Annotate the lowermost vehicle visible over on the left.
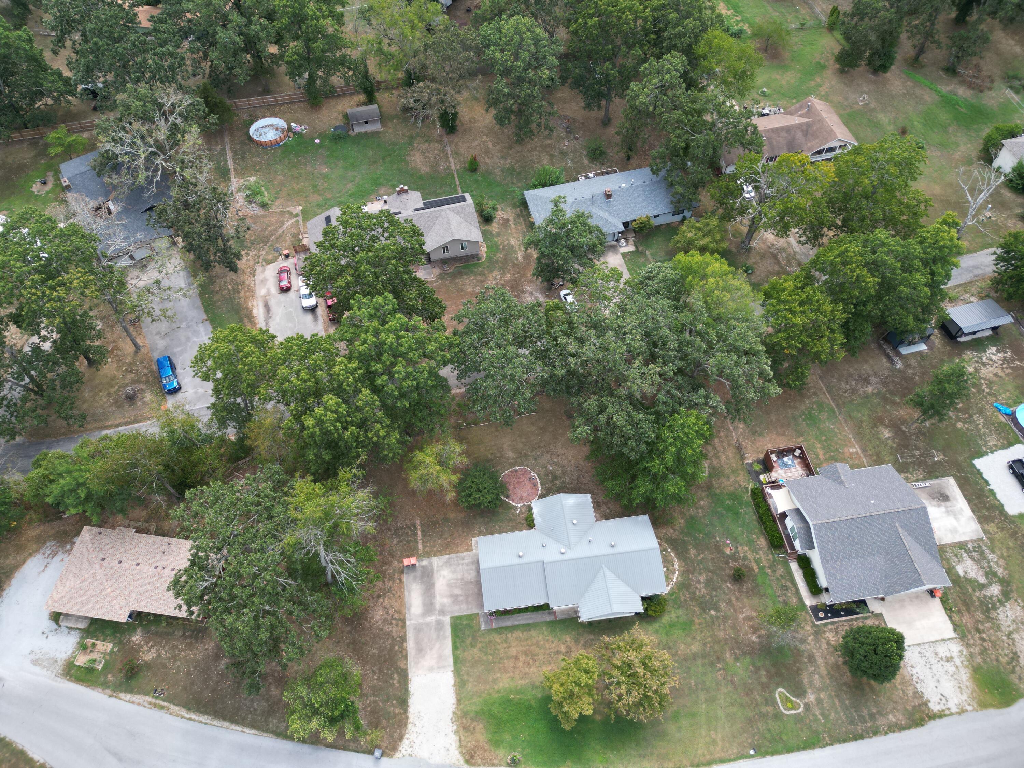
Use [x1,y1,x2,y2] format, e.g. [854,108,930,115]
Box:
[152,349,179,390]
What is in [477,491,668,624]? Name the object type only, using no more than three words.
house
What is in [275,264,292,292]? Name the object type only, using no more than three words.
car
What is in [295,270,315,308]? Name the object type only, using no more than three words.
vehicle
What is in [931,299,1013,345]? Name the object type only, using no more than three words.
shed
